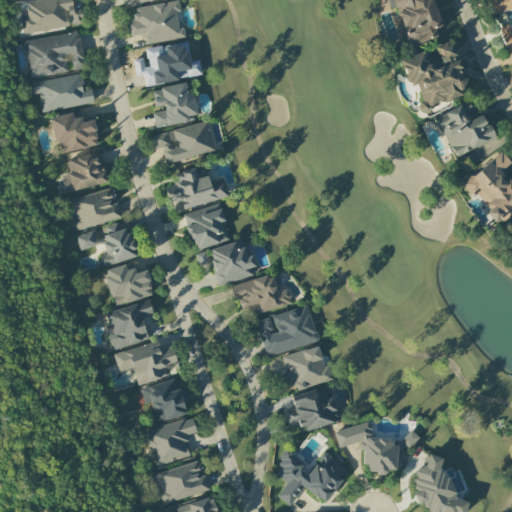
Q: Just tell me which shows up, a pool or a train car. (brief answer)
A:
pool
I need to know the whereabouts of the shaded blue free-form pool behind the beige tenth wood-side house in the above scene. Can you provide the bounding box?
[112,370,136,390]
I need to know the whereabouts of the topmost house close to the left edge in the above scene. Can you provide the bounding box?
[20,0,76,36]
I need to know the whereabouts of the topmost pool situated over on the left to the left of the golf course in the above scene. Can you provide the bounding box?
[183,6,198,30]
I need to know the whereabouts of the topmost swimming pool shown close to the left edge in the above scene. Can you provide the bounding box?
[16,45,31,76]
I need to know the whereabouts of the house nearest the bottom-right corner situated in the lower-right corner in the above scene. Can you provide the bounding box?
[414,452,471,512]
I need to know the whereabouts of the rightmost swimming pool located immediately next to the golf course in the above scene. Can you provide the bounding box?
[466,198,495,224]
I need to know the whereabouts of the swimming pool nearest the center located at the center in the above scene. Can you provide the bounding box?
[247,244,270,270]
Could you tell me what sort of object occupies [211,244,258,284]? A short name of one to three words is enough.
house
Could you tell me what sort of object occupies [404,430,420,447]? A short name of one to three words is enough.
gazebo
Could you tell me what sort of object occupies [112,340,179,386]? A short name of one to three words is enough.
house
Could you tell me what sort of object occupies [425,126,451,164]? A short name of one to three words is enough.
swimming pool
